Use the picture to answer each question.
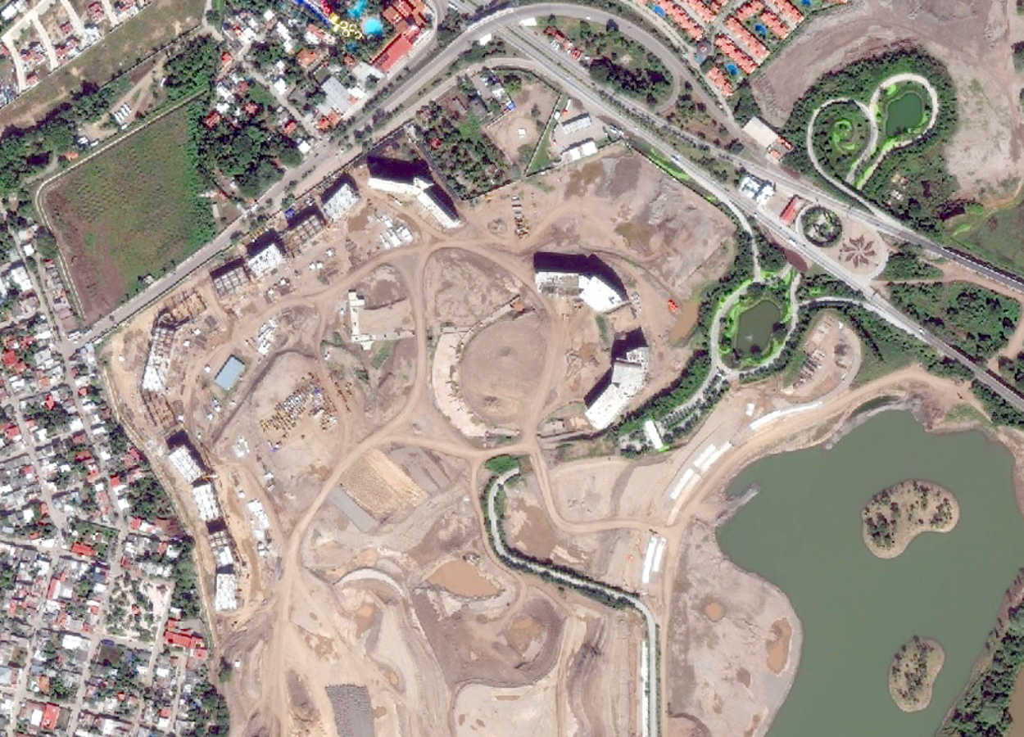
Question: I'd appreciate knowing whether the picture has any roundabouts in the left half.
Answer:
No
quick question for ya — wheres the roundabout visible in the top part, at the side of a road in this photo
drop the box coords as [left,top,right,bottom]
[797,202,845,250]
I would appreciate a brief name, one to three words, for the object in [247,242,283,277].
building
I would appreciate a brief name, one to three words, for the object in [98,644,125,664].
house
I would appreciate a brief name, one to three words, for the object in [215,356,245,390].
shed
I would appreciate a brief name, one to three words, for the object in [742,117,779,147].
building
